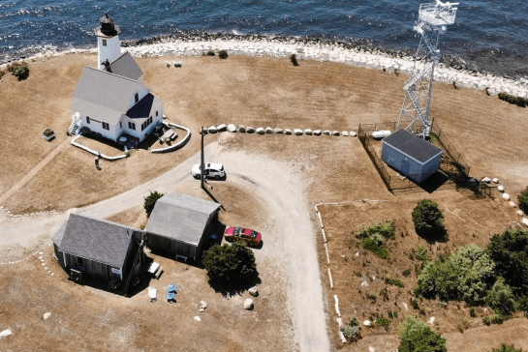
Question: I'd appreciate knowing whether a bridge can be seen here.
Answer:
No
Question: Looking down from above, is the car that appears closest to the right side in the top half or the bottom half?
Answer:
bottom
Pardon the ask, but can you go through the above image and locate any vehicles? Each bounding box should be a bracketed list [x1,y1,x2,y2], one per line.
[223,222,263,242]
[192,158,226,174]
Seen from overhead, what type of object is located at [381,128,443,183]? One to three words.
building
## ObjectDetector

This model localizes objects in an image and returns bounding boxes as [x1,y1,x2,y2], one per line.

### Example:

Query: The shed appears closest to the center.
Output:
[146,192,221,259]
